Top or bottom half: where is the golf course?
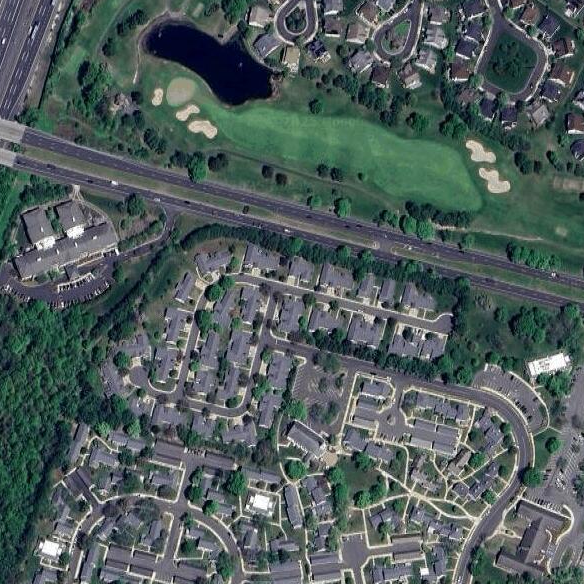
top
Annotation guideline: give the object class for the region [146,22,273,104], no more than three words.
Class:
pond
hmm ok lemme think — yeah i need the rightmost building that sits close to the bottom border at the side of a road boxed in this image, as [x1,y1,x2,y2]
[495,499,566,579]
